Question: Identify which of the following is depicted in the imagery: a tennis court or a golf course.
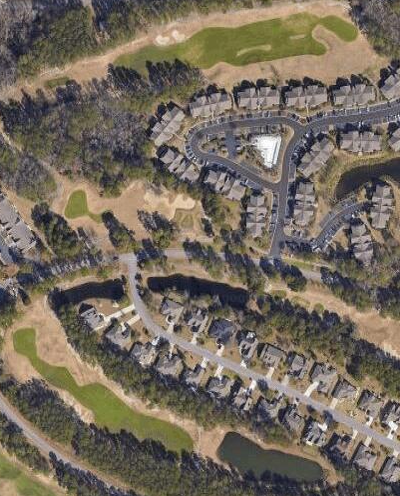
golf course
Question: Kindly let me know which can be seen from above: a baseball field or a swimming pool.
swimming pool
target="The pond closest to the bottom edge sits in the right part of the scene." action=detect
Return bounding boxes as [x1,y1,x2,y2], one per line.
[221,434,321,478]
